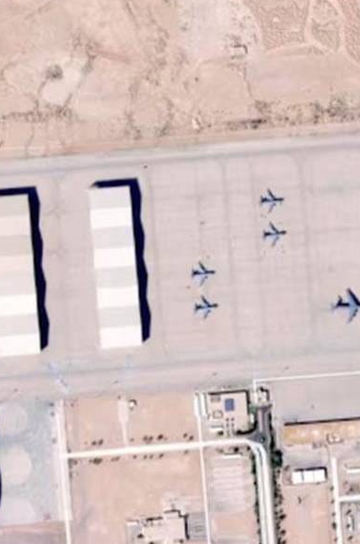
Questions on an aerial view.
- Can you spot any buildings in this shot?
Yes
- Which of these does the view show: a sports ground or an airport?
airport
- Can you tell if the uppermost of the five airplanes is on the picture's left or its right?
right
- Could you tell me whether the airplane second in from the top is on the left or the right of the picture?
right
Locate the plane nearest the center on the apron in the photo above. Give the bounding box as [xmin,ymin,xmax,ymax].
[189,263,213,286]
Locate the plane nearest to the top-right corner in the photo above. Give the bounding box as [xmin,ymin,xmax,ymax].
[258,190,282,213]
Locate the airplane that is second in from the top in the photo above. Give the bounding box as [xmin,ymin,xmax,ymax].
[261,224,285,247]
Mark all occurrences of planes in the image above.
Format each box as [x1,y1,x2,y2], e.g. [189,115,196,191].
[261,224,285,247]
[332,291,360,323]
[189,263,213,286]
[258,190,282,213]
[192,297,216,320]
